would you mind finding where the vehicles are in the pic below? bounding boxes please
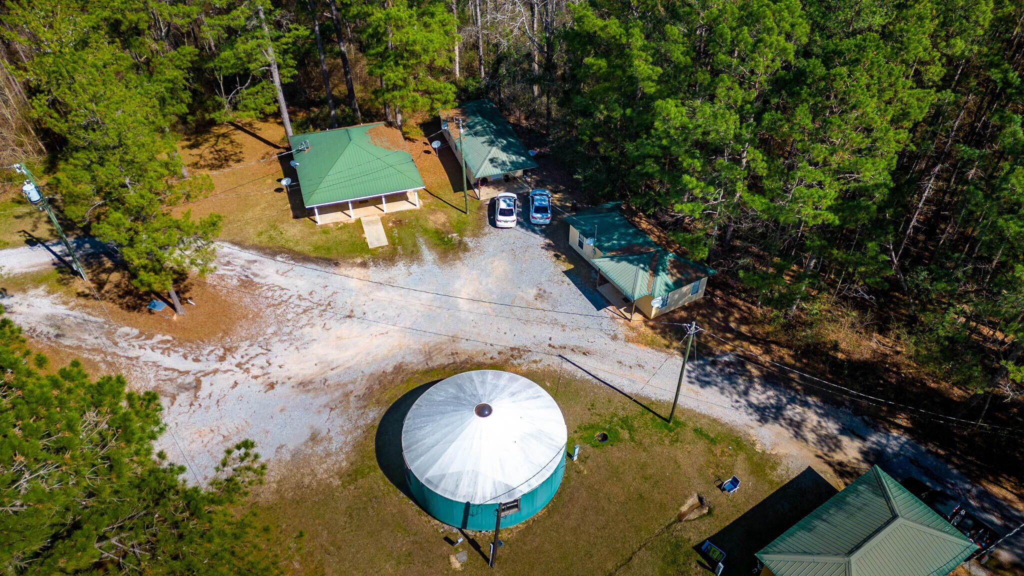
[904,480,1024,576]
[528,187,554,224]
[493,191,519,228]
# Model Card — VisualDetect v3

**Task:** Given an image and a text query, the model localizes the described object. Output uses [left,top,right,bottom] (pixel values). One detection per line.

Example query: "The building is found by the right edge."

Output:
[754,463,980,576]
